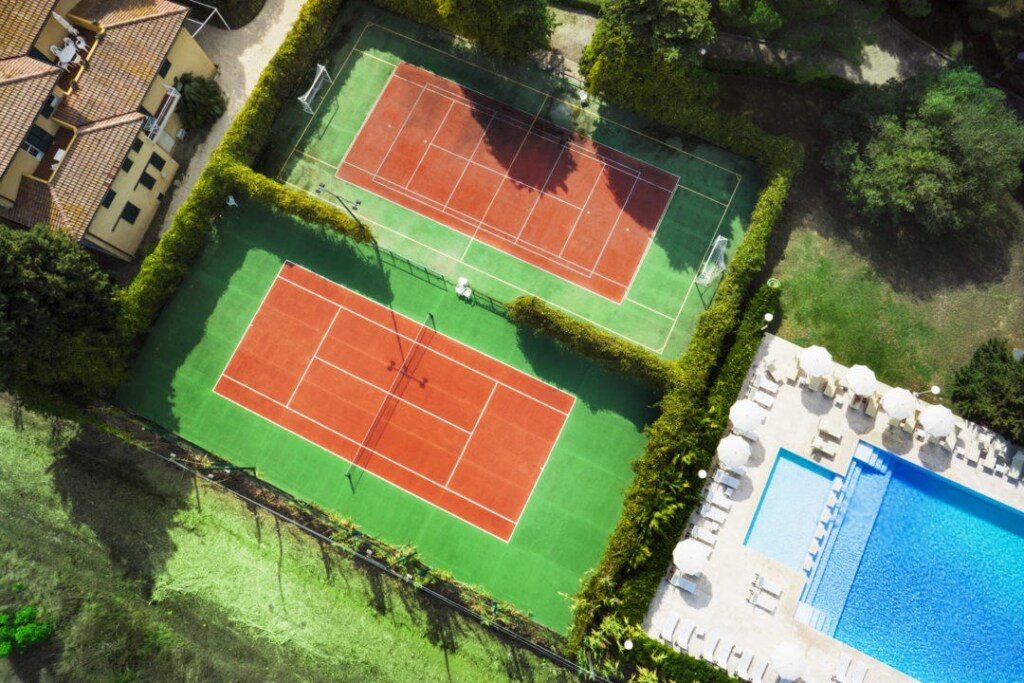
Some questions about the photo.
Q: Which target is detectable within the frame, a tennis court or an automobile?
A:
tennis court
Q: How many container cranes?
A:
0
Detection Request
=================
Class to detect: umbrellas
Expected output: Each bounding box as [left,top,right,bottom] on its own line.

[795,345,834,380]
[916,401,957,439]
[713,432,752,469]
[670,536,709,576]
[839,362,878,400]
[768,636,809,678]
[877,385,917,423]
[725,398,763,435]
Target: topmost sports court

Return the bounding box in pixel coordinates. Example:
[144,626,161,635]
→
[258,10,757,370]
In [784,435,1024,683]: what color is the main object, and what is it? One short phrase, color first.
blue swimming pool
